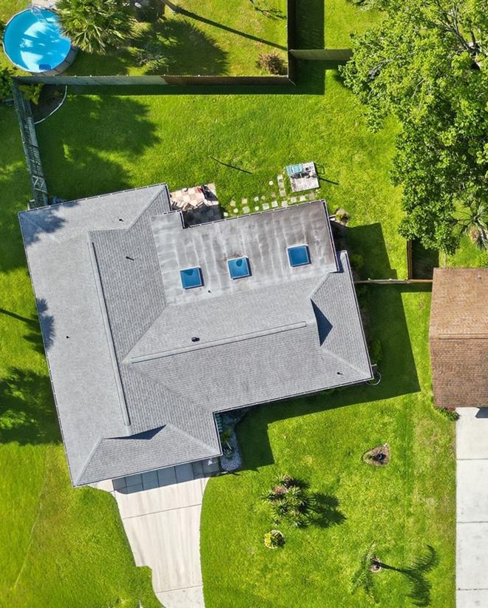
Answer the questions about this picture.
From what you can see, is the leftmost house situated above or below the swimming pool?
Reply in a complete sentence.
In the image, the leftmost house appears below the swimming pool.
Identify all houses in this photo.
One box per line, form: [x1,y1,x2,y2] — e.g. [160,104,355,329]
[17,181,375,490]
[427,268,488,408]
